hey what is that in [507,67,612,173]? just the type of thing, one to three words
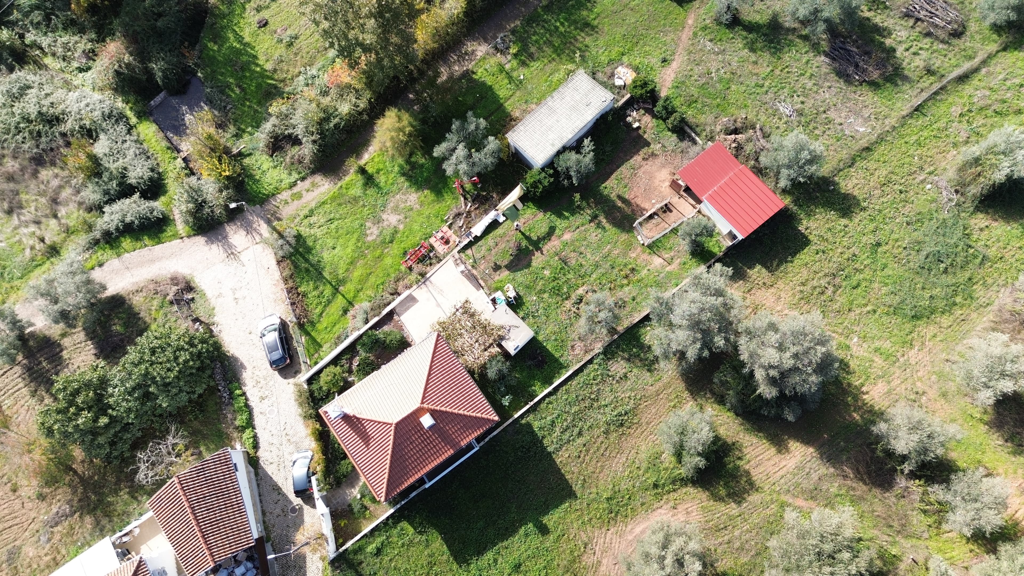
shed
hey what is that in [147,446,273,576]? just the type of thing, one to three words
house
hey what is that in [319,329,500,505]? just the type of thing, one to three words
house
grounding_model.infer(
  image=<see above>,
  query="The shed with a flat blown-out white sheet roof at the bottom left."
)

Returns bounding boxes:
[48,535,127,576]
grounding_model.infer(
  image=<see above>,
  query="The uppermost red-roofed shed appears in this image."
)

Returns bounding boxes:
[677,141,785,245]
